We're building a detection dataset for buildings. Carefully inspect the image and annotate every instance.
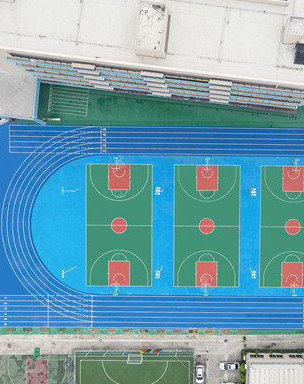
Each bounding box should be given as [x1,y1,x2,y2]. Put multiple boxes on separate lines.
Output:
[247,352,304,384]
[0,0,304,117]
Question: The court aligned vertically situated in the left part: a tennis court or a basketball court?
basketball court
